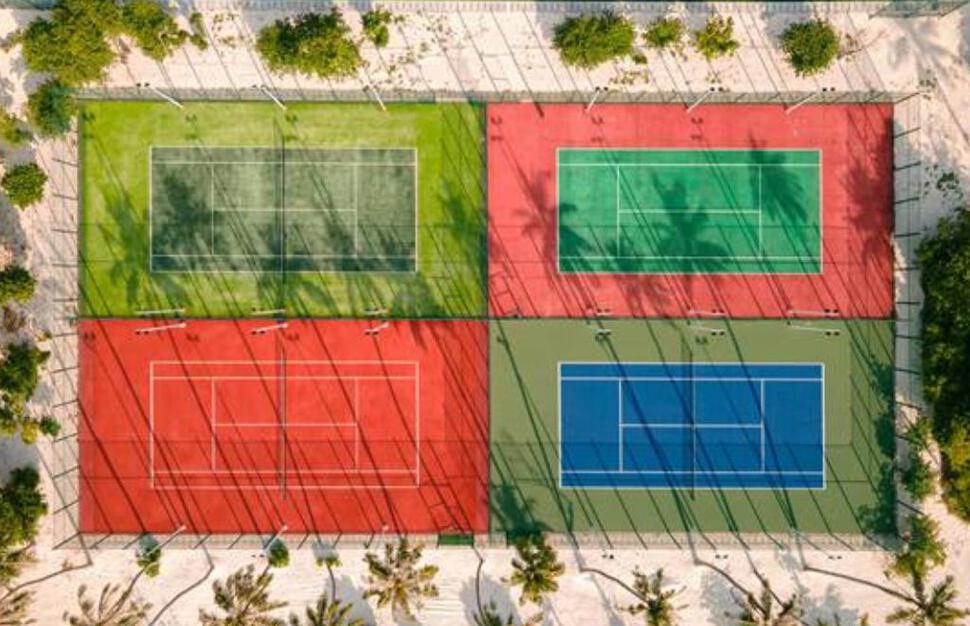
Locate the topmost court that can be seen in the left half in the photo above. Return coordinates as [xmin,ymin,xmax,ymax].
[79,102,487,317]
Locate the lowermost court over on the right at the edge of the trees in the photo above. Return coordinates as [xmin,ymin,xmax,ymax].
[489,320,894,534]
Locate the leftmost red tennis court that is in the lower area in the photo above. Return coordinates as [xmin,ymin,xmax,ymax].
[79,320,488,533]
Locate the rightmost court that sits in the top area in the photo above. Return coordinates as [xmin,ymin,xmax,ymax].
[488,103,893,317]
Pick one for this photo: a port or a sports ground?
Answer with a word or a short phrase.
sports ground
